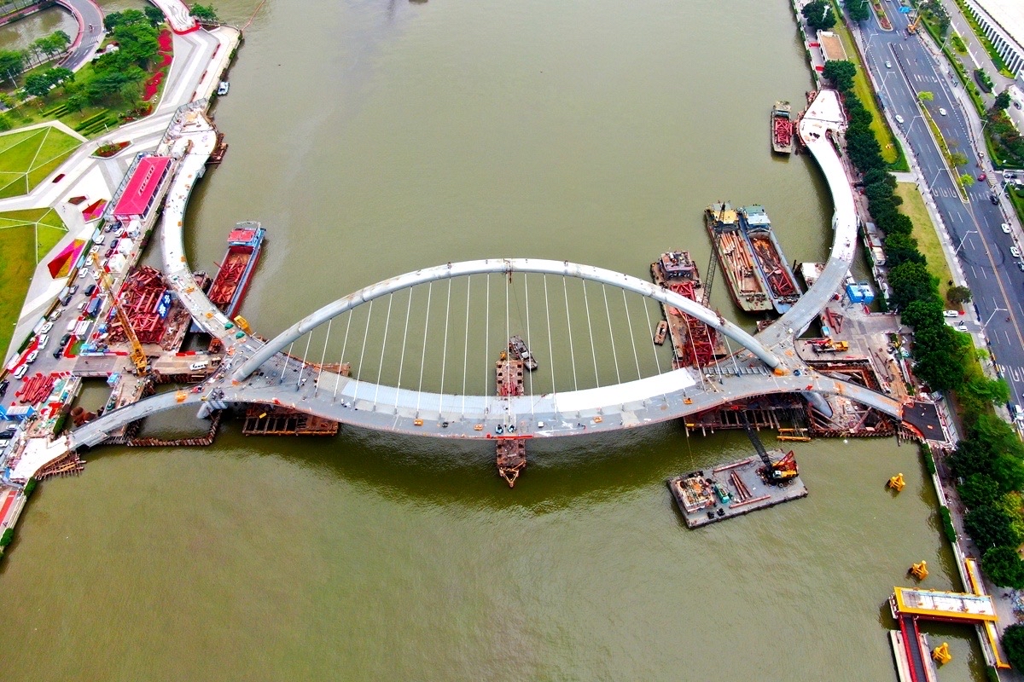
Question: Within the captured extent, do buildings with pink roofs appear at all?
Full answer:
Yes, there's a building with a pink roof down there.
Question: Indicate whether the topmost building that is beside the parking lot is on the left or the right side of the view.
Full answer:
It is on the left.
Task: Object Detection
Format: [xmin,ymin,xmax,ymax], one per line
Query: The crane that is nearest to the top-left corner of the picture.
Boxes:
[92,250,151,375]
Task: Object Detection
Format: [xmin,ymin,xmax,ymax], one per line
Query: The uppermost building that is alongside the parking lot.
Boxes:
[112,157,176,224]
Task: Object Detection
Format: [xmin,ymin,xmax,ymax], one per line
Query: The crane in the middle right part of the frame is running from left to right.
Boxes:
[804,336,850,355]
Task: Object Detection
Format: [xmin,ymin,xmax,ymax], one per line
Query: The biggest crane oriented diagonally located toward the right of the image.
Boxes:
[722,409,797,491]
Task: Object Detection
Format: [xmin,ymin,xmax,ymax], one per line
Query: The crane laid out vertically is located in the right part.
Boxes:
[694,202,727,321]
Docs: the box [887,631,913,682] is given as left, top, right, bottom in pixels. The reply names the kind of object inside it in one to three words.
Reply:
pier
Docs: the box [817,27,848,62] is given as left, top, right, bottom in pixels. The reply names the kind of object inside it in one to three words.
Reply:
building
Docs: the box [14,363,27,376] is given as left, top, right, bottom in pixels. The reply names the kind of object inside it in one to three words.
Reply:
vehicle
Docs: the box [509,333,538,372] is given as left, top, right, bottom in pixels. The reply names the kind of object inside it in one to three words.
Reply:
boat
